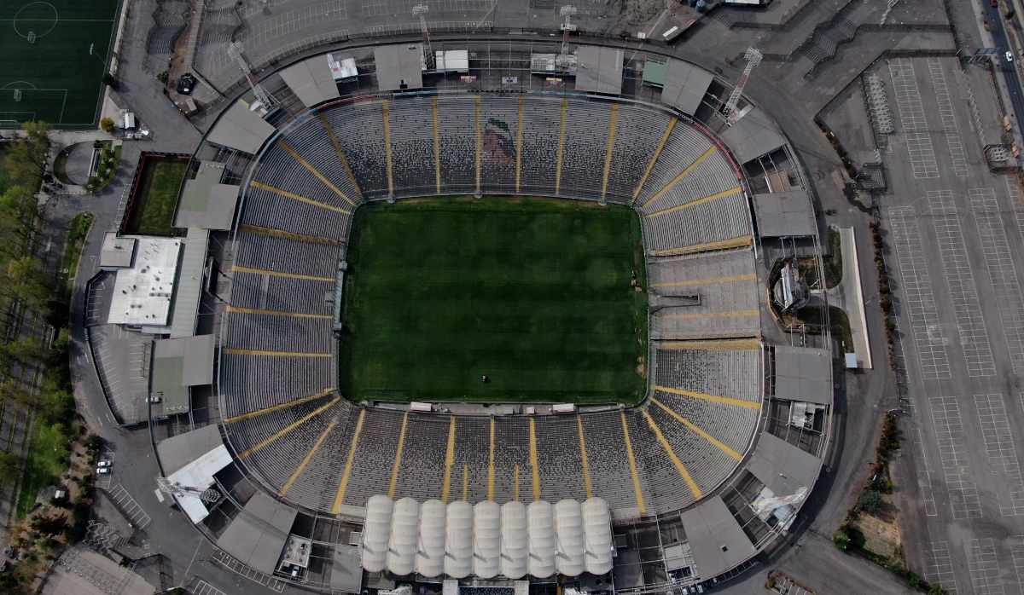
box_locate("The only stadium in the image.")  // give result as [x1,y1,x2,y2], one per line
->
[148,38,834,595]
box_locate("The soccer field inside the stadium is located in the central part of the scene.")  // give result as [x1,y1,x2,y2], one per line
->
[335,198,650,416]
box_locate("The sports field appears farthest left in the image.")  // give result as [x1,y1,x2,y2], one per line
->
[0,0,124,128]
